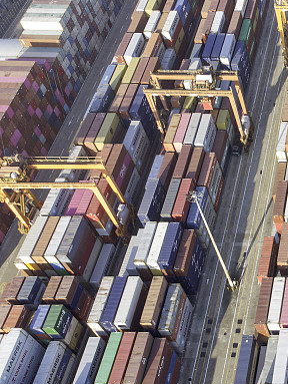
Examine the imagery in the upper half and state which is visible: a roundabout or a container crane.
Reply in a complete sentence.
What appears in the upper half is a container crane.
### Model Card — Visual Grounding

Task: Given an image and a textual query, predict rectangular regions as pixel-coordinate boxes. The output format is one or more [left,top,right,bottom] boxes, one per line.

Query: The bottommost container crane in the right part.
[137,69,254,145]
